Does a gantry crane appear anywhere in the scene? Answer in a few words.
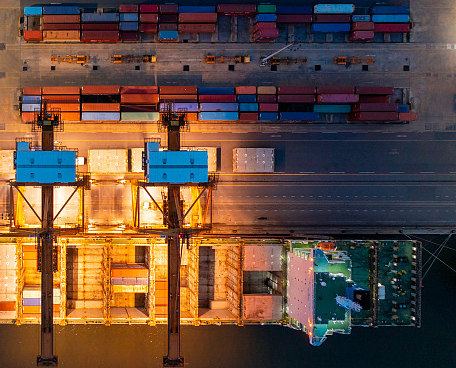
Yes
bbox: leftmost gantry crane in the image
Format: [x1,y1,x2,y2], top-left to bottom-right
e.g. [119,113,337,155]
[5,98,95,367]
